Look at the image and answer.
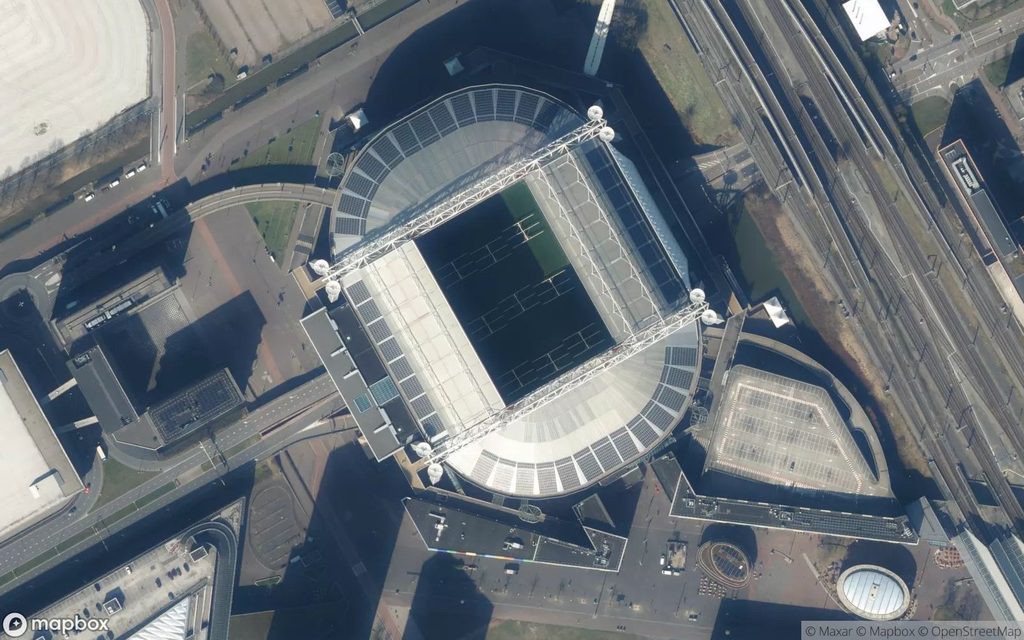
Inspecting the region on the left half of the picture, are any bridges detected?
Yes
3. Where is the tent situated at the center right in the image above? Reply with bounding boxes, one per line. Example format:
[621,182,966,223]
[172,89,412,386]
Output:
[763,297,789,328]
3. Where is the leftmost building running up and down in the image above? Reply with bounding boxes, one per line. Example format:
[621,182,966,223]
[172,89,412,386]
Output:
[0,349,84,538]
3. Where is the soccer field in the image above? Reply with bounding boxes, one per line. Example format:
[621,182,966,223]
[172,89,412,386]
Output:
[416,181,615,404]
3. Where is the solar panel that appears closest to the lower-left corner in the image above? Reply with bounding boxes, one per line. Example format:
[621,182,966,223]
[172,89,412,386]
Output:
[155,375,238,438]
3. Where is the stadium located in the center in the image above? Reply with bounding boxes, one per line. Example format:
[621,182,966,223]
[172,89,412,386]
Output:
[309,84,724,502]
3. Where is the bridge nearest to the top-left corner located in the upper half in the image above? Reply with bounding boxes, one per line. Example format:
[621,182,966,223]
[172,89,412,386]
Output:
[152,97,186,160]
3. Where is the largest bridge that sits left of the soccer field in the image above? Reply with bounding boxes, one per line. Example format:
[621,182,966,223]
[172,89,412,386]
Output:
[42,179,337,285]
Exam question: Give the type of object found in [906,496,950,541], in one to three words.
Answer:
building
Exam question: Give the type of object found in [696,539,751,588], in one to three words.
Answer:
building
